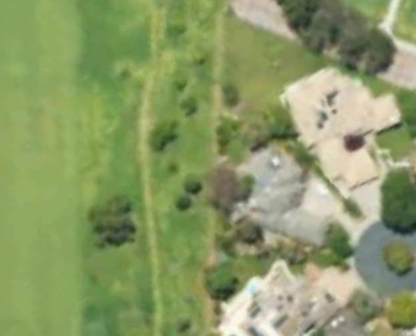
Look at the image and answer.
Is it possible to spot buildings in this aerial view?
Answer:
Yes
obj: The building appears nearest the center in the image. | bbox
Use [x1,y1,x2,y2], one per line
[239,149,332,245]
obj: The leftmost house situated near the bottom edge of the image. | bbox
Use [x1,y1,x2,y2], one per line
[245,263,345,336]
